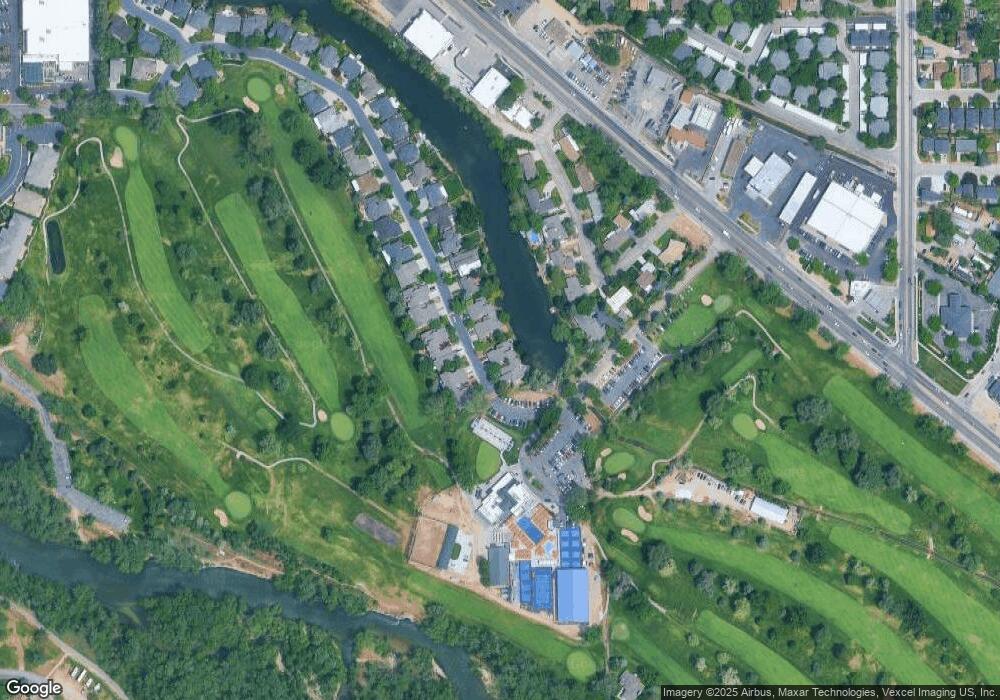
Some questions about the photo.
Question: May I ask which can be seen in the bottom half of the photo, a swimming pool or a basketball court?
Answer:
swimming pool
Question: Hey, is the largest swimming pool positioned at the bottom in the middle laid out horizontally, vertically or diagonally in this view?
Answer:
diagonally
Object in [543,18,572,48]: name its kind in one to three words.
building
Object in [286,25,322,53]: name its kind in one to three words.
house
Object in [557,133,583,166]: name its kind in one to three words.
house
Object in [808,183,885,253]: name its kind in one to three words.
building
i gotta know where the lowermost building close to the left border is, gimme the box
[0,214,33,285]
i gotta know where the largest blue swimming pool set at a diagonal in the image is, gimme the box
[517,515,544,545]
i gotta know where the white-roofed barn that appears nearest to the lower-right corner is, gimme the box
[751,497,789,524]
